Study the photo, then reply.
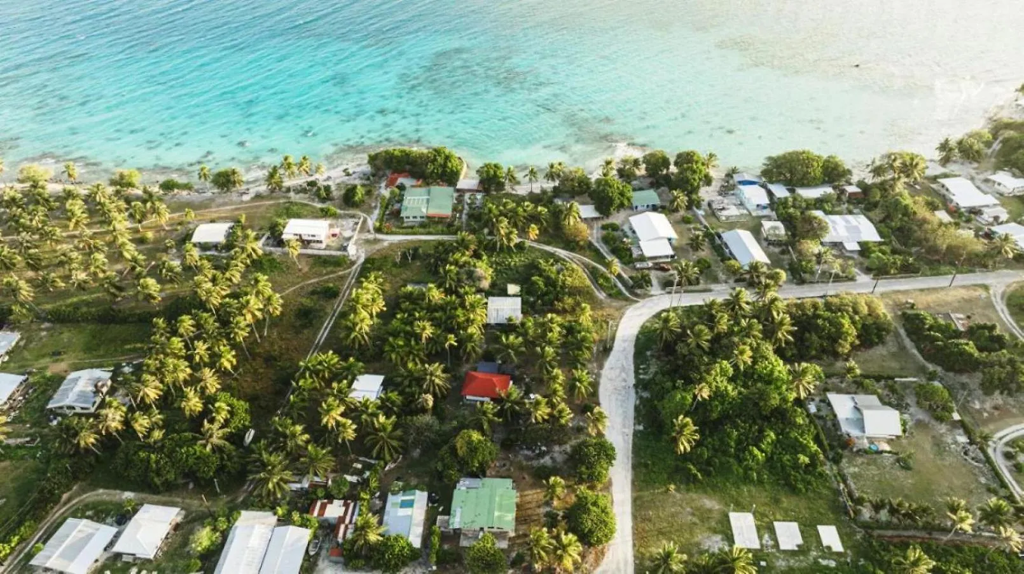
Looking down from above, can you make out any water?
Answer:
Yes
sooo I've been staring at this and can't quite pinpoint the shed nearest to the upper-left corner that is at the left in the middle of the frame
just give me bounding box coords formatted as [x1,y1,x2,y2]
[192,222,235,250]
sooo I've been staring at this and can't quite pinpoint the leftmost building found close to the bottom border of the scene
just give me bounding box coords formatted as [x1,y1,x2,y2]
[24,516,122,574]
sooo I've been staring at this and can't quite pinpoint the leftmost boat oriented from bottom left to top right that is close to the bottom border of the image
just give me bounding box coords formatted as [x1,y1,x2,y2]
[306,536,321,556]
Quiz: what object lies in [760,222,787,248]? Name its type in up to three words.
house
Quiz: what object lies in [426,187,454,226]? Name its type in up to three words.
house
